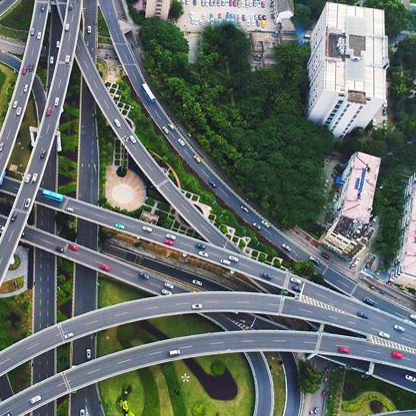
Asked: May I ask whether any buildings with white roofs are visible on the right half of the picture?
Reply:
Yes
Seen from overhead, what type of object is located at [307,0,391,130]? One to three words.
building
